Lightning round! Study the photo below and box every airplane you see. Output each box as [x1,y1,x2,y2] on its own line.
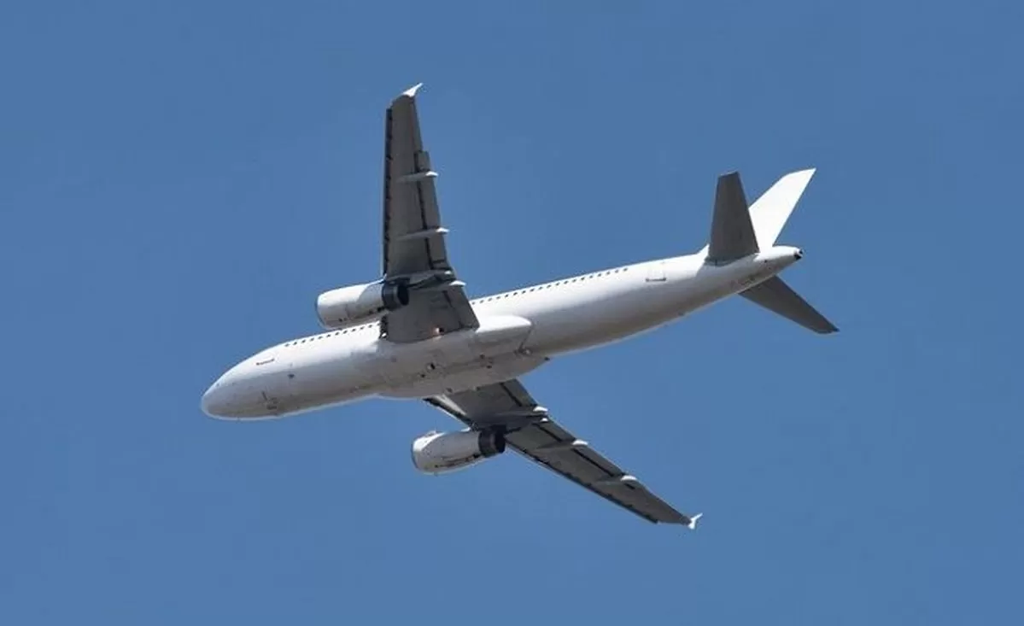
[203,81,838,529]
